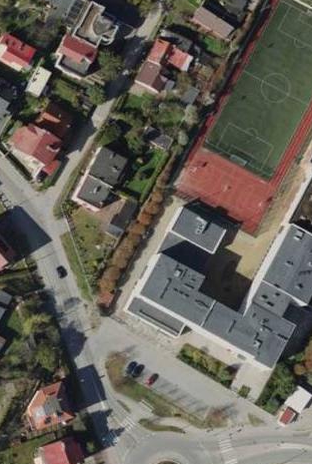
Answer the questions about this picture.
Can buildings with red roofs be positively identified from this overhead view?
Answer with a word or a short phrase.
Yes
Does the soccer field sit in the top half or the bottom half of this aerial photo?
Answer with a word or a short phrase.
top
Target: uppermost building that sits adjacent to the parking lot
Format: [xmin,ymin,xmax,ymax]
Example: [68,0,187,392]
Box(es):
[124,173,312,368]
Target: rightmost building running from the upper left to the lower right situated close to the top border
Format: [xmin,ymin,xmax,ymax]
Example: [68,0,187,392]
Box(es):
[192,5,234,40]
